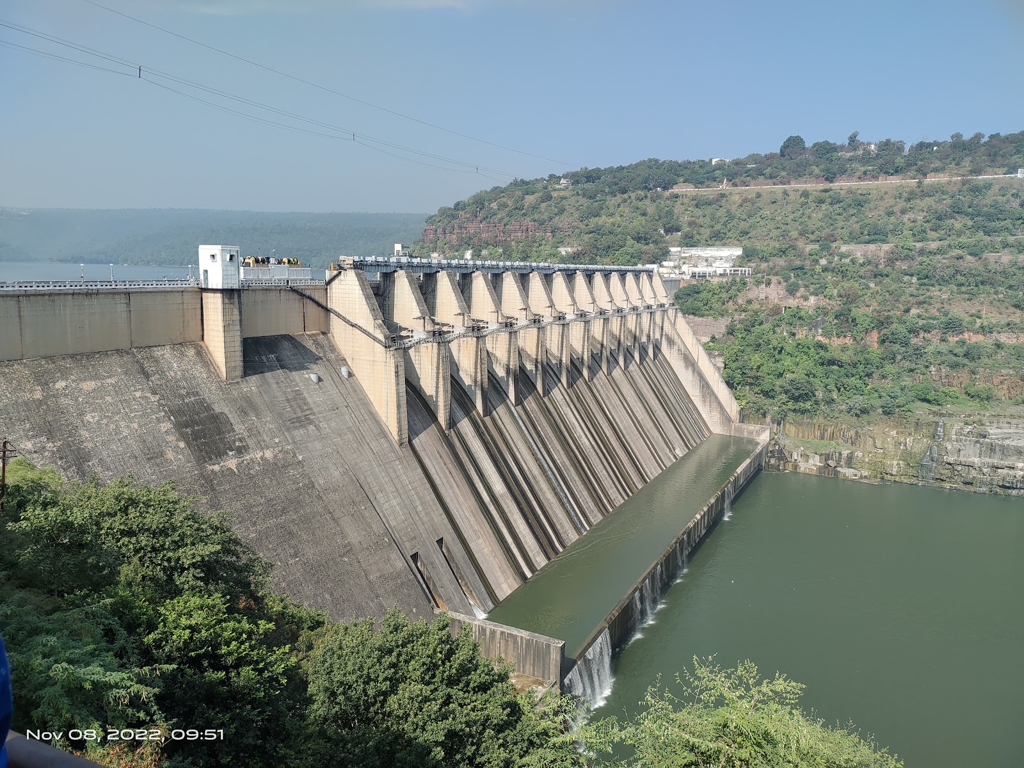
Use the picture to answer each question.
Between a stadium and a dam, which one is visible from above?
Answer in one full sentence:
There is a dam in the scene.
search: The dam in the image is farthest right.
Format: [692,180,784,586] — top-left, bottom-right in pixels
[566,432,768,705]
